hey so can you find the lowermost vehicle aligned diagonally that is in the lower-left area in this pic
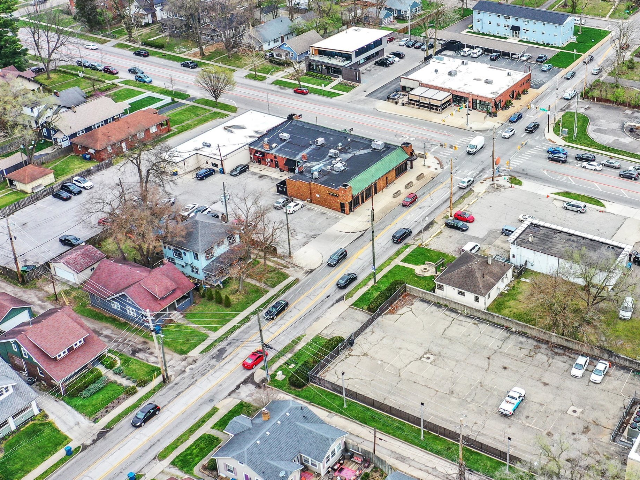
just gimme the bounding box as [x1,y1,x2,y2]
[130,402,161,429]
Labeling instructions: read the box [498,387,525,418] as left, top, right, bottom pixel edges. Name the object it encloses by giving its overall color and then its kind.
white truck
